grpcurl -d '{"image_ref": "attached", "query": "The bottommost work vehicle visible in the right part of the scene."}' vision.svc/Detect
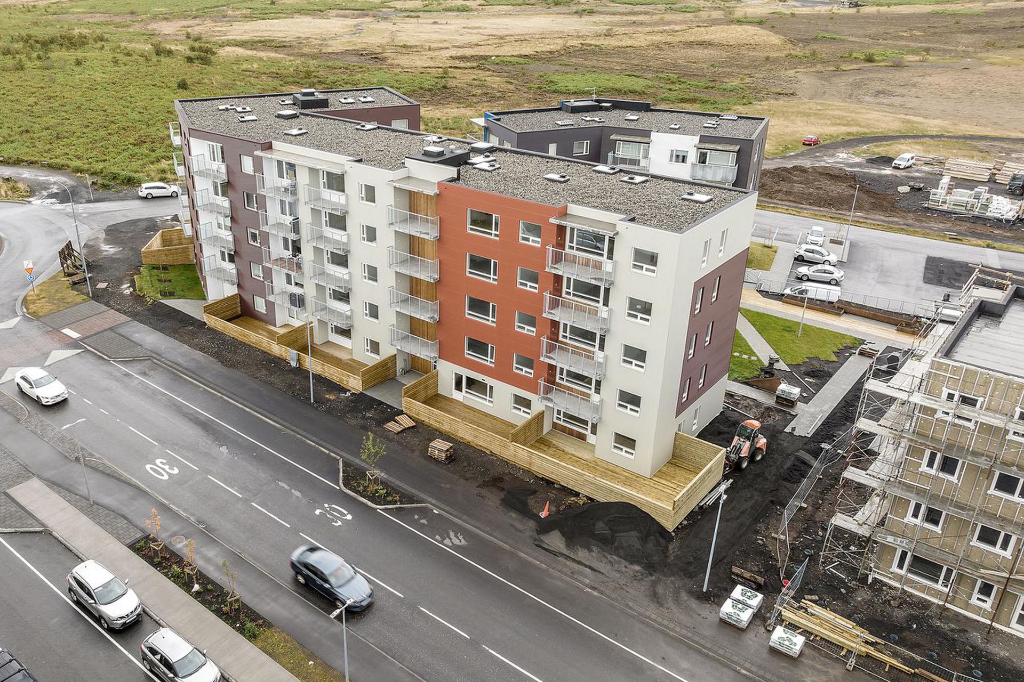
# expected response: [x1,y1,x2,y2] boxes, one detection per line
[722,425,769,476]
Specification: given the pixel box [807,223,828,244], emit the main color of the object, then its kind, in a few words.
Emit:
white car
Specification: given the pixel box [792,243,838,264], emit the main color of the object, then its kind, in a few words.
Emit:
white car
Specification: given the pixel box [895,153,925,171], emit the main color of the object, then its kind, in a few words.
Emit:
white vehicle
